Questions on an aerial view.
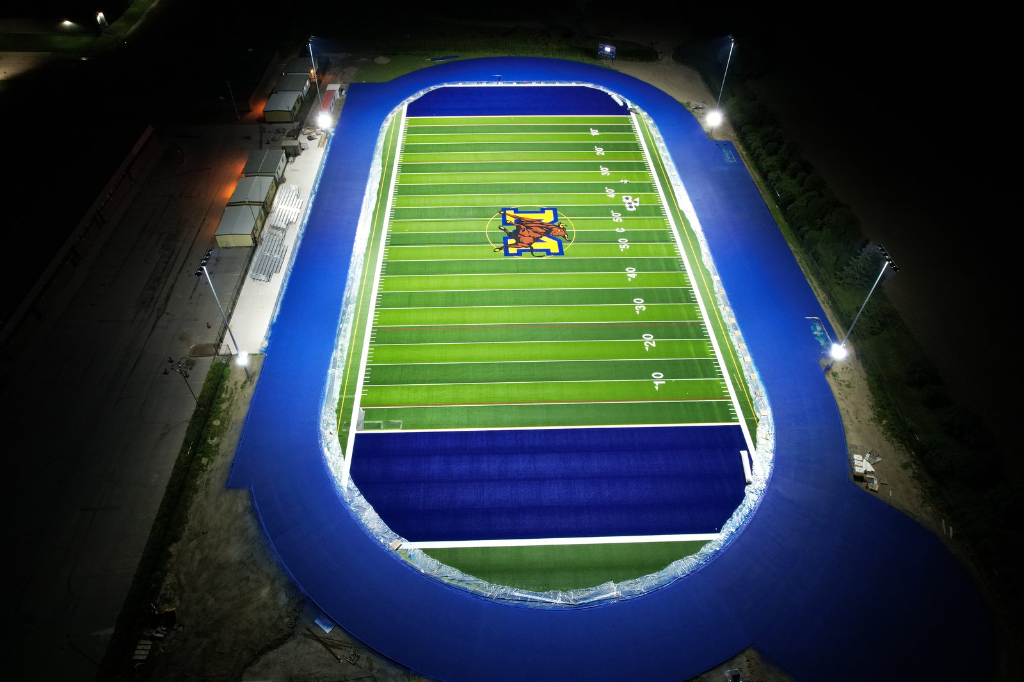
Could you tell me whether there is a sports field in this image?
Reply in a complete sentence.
Yes, you can see a sports field in this photo.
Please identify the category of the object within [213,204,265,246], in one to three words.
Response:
building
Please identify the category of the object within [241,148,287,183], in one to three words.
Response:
building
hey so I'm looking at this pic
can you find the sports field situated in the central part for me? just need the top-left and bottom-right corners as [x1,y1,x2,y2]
[320,81,774,608]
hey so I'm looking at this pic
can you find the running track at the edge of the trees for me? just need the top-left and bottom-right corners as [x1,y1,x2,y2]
[228,56,994,682]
